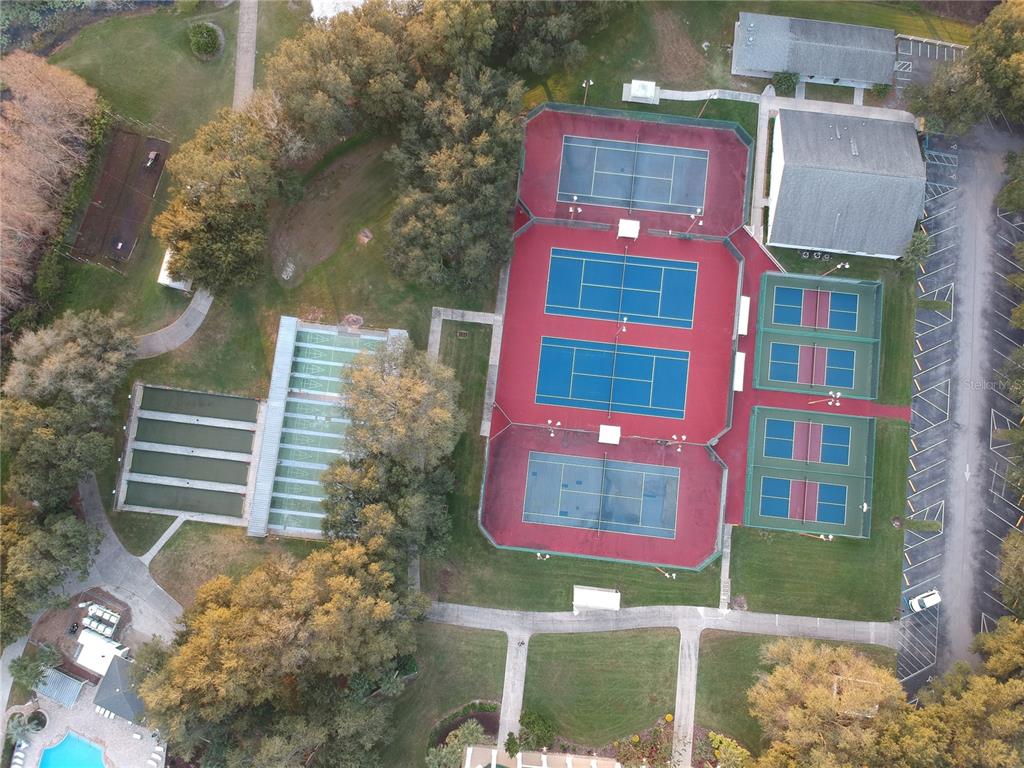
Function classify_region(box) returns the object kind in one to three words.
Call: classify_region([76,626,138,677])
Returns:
building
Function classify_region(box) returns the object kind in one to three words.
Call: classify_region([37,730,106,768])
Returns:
swimming pool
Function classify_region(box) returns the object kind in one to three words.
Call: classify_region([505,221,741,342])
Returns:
tennis court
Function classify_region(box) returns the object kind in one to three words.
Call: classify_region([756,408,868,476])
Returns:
sports court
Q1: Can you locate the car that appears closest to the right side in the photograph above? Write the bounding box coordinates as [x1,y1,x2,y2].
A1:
[910,592,945,612]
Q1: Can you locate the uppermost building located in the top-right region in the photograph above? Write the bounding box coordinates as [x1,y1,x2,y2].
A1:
[729,12,897,92]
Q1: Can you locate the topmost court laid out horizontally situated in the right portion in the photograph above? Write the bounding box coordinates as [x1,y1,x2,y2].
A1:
[520,109,749,232]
